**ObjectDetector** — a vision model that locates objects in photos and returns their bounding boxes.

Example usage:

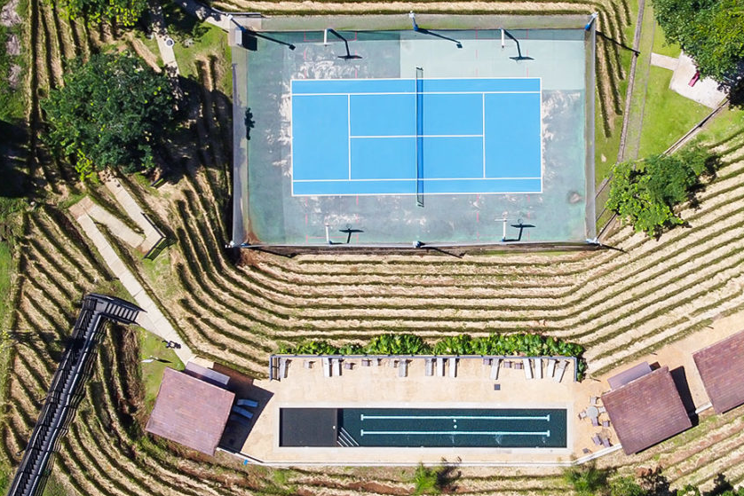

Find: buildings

[145,358,239,456]
[601,359,692,455]
[692,327,744,414]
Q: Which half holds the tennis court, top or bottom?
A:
top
